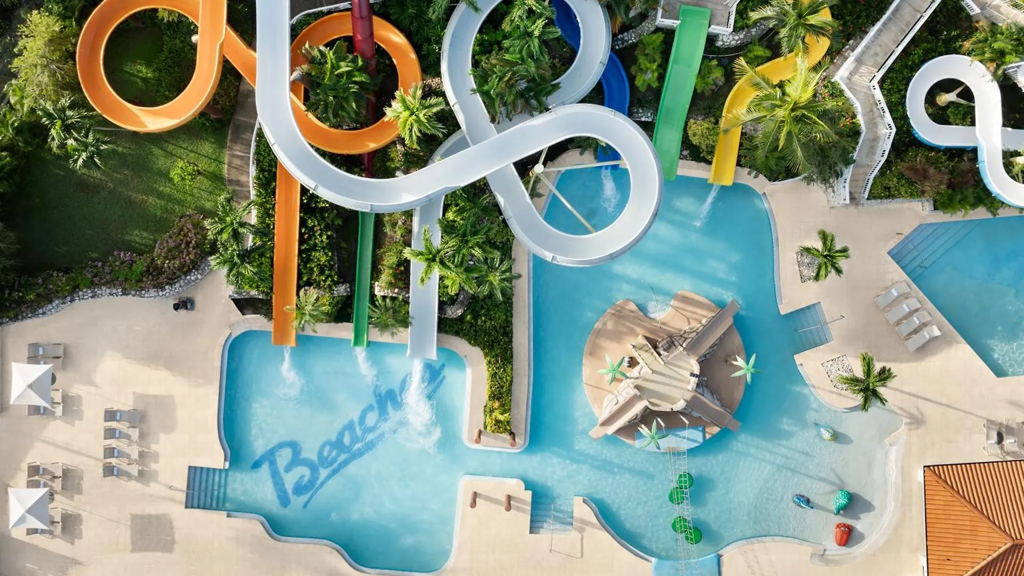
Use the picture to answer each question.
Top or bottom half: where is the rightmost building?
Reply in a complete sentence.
You can find the rightmost building in the bottom half.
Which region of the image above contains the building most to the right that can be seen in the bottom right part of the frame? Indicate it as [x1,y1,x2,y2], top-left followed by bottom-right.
[910,457,1024,576]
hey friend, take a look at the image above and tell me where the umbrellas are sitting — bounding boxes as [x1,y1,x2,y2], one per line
[10,487,64,529]
[13,363,67,405]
